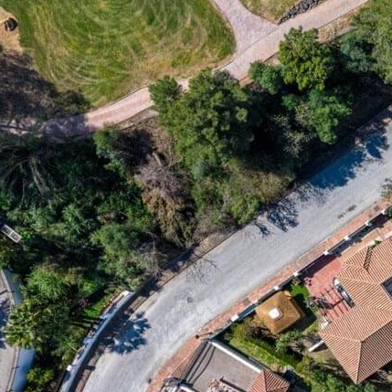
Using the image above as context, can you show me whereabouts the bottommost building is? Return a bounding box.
[180,337,293,392]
